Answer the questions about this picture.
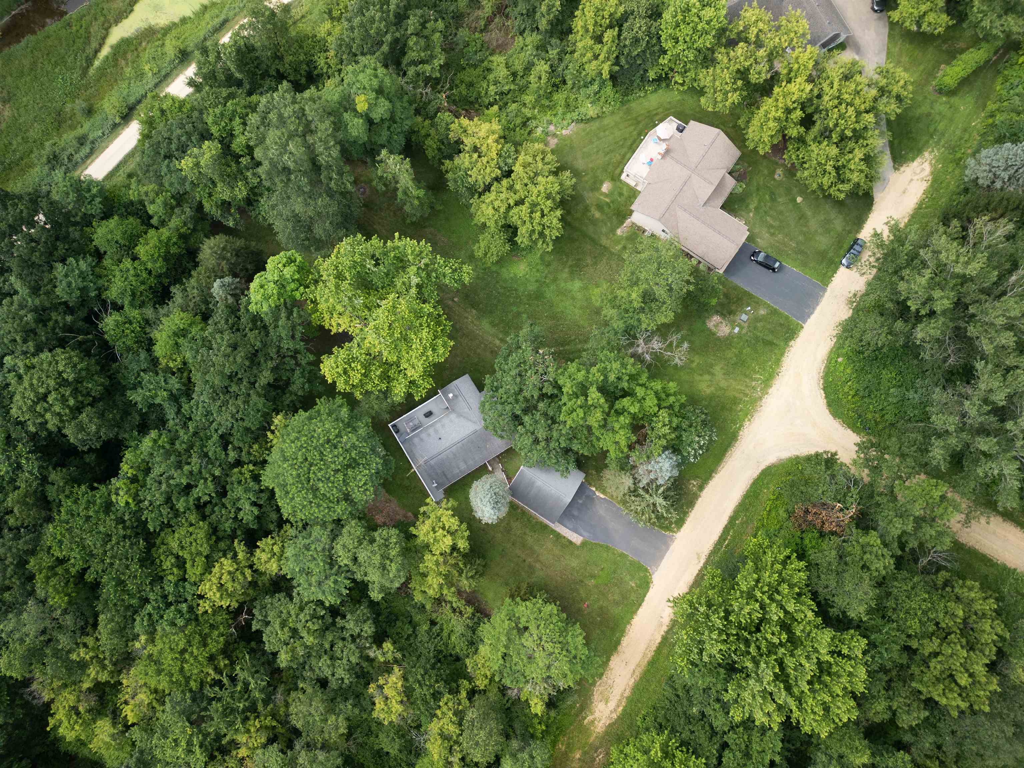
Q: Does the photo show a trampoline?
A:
No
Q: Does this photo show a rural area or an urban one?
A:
rural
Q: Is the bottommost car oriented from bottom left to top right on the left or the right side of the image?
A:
right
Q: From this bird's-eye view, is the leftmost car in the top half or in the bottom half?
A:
top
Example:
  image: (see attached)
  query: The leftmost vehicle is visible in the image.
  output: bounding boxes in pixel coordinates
[751,251,782,271]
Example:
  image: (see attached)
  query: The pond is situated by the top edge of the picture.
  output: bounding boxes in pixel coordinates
[86,0,205,74]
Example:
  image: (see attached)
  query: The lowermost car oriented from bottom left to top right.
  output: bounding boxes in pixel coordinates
[841,238,866,269]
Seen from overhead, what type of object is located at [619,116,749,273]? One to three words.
house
